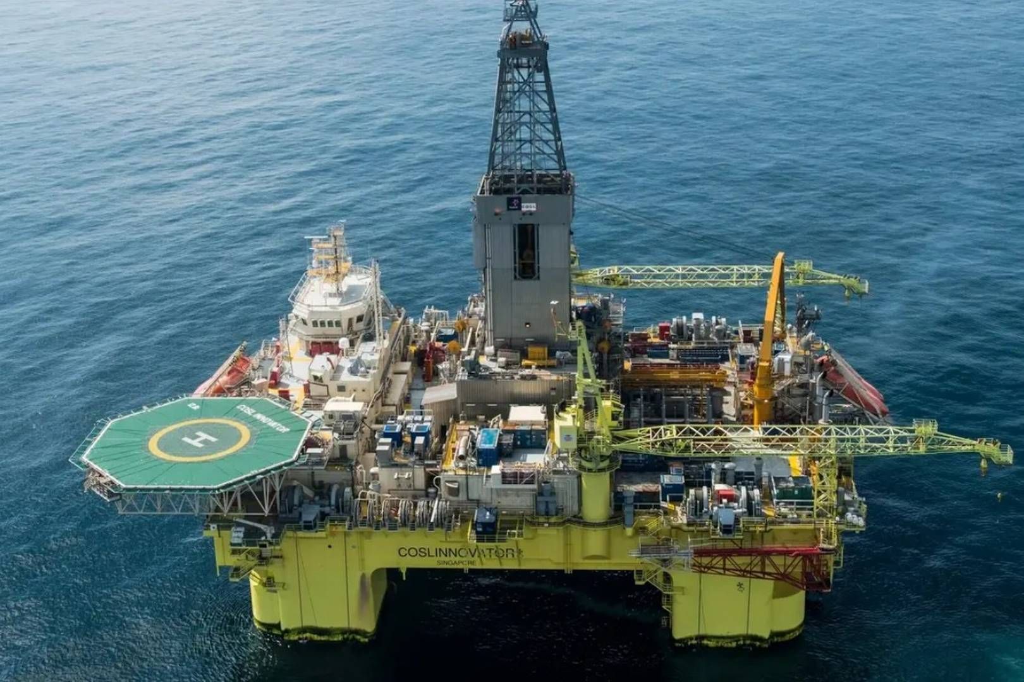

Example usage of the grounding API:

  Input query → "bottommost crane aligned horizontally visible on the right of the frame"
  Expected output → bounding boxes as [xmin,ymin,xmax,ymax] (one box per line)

[547,317,1018,532]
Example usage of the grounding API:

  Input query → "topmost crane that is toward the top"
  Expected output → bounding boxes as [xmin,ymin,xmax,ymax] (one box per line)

[572,234,873,306]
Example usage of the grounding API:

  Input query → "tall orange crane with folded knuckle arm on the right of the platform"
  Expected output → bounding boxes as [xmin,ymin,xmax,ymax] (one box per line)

[752,247,788,440]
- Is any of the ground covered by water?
Yes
